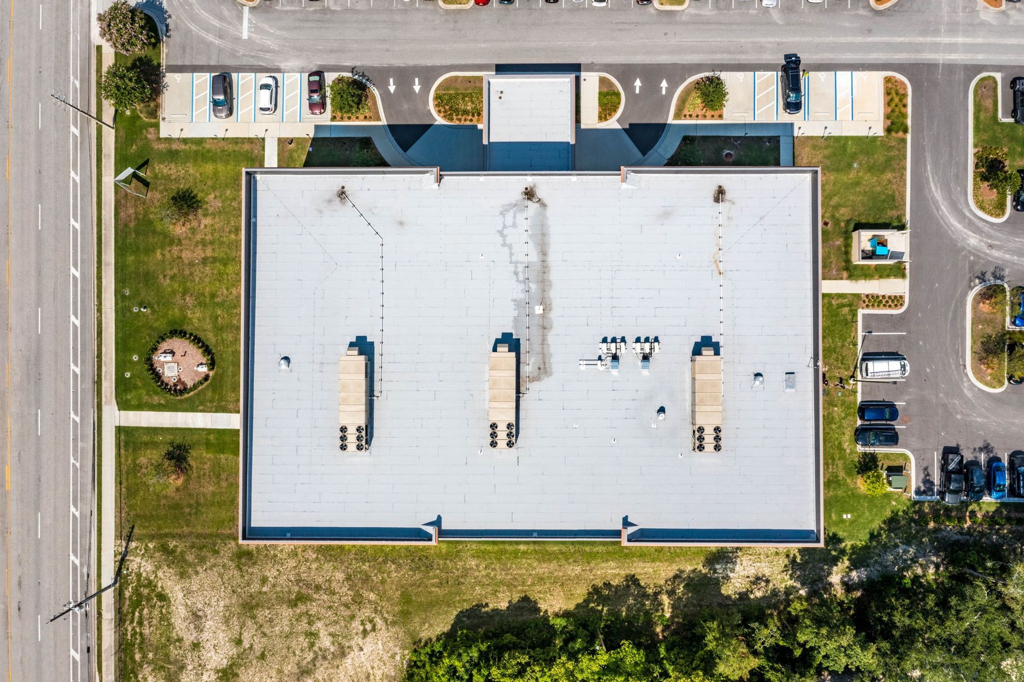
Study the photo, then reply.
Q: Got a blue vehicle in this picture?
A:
Yes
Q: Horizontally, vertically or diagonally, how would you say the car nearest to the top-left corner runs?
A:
vertically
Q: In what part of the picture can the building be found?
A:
center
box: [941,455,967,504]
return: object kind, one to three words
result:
truck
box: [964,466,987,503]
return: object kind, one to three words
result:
car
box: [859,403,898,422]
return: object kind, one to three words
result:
car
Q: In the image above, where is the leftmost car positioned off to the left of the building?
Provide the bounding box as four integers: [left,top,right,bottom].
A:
[210,74,232,118]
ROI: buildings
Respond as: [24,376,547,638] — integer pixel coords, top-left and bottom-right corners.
[239,75,823,547]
